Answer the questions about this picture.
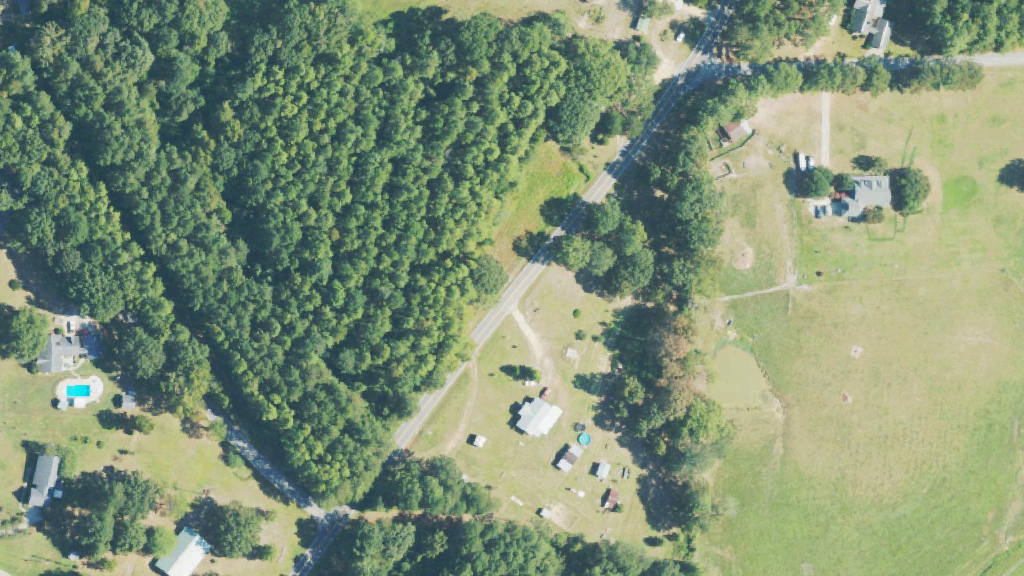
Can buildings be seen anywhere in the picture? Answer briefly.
Yes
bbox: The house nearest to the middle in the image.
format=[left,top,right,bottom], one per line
[516,394,564,438]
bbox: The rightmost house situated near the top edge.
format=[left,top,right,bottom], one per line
[847,0,894,50]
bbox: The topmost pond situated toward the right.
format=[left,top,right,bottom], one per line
[710,347,771,408]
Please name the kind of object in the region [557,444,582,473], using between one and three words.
barn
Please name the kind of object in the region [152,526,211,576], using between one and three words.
barn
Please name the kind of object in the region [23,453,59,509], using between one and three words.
house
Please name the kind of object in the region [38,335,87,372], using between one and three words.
house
